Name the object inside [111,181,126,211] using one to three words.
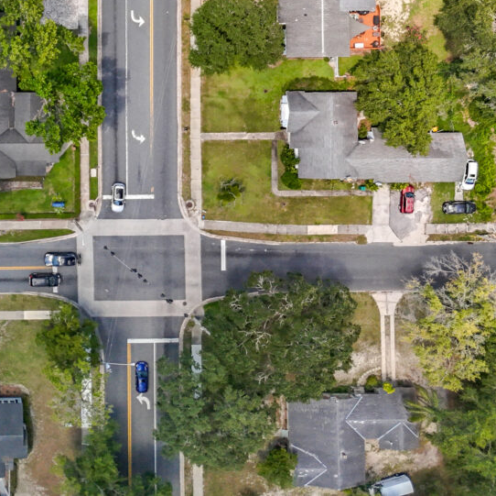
car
